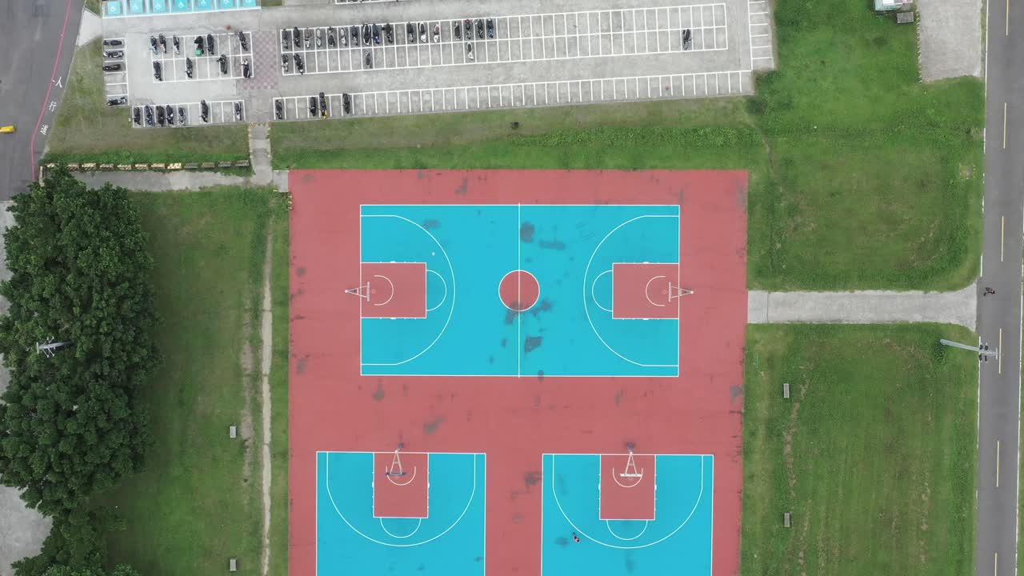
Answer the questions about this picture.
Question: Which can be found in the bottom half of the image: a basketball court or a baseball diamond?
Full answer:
There is a basketball court in the bottom half of the image.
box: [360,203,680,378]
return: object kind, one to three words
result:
basketball court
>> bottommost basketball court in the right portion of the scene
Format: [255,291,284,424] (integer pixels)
[541,453,714,576]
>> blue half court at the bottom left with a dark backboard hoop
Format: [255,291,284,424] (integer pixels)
[316,451,486,576]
